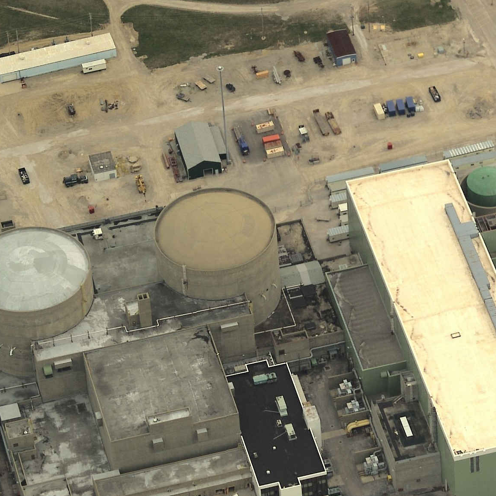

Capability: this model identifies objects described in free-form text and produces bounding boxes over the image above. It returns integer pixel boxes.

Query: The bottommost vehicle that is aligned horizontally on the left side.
[63,171,88,184]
